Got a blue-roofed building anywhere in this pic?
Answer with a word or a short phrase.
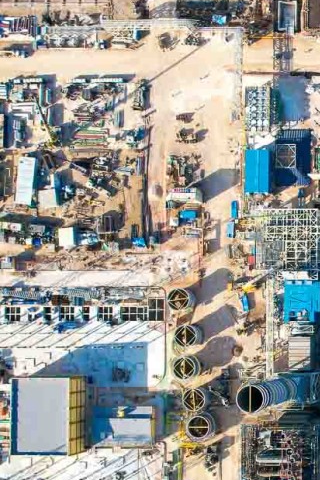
Yes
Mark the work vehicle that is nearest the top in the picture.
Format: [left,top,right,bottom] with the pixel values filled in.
[134,65,146,89]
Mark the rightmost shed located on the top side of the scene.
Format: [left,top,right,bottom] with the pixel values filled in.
[272,129,313,188]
